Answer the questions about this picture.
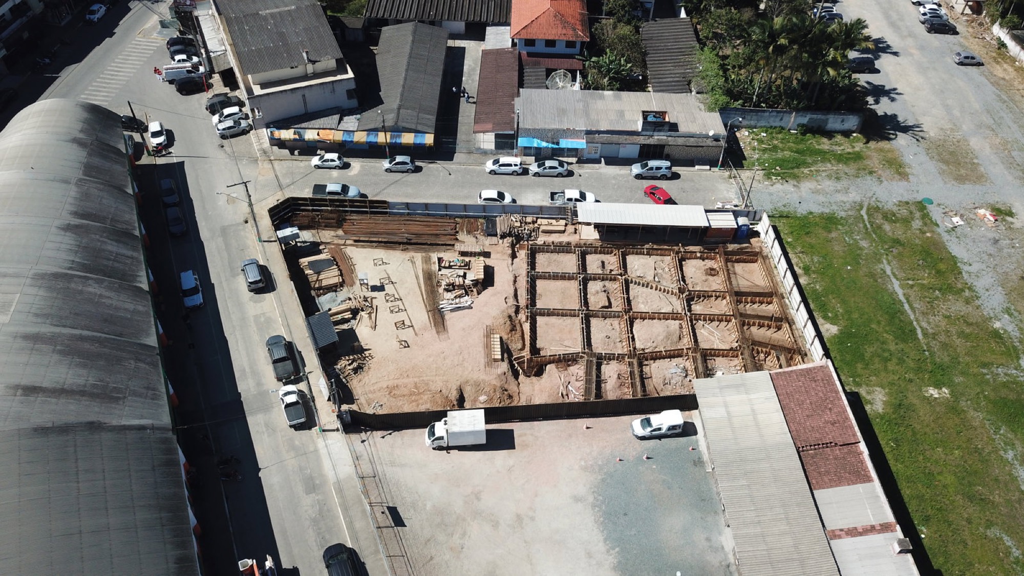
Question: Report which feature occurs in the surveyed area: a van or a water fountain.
van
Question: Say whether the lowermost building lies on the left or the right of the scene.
right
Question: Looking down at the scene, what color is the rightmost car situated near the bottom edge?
black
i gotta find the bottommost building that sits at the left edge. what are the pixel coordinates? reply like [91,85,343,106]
[0,99,213,576]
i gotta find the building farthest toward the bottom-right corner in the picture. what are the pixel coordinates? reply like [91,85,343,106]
[694,358,924,576]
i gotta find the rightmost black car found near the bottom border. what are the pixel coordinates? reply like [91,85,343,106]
[324,542,362,576]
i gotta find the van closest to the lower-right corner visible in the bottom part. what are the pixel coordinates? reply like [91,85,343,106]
[631,405,688,440]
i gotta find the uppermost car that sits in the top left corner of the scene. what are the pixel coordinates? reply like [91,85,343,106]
[87,4,105,19]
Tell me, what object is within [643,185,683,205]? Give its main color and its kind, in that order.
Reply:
red car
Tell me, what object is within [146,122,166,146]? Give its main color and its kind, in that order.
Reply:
white car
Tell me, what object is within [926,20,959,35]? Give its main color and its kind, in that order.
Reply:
black car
